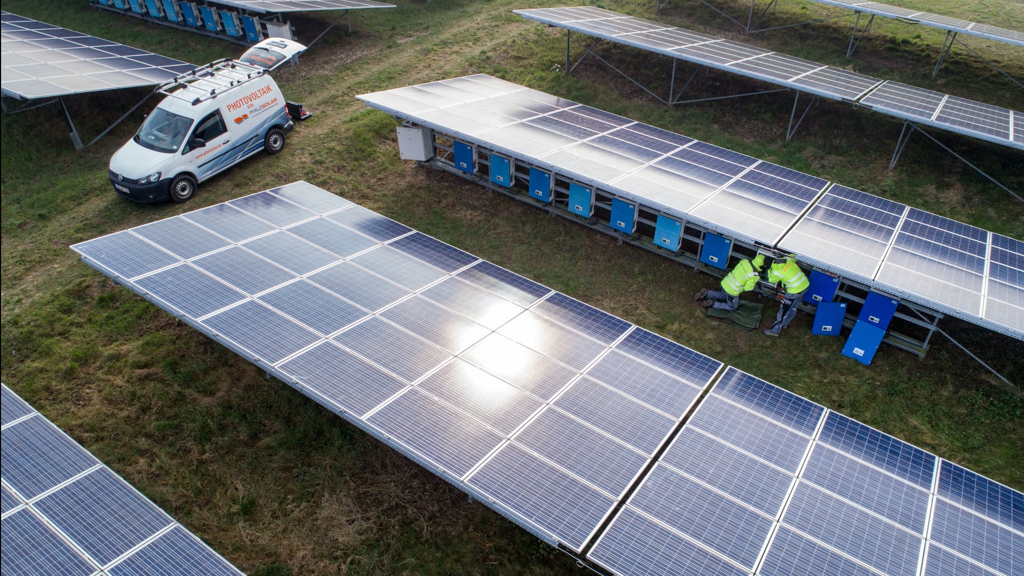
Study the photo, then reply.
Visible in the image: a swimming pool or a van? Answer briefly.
van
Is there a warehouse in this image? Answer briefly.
No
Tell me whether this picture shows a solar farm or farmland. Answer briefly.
solar farm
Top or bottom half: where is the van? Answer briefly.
top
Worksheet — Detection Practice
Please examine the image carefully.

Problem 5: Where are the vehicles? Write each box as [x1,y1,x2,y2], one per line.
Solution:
[108,38,308,208]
